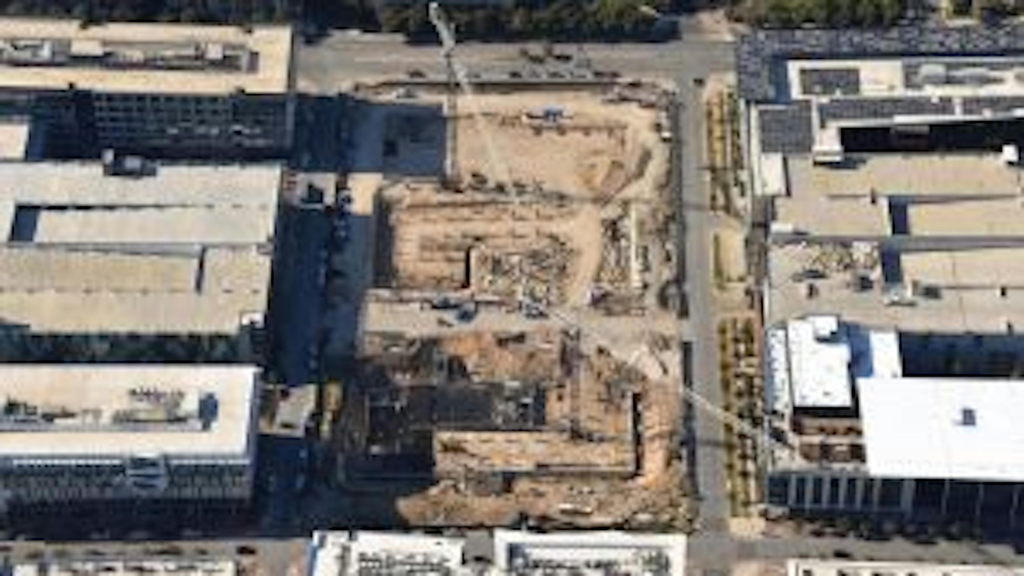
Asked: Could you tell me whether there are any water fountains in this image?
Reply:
No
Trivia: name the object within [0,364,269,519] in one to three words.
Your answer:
building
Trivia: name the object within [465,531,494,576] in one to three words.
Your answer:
building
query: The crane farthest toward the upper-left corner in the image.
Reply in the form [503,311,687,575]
[430,2,518,197]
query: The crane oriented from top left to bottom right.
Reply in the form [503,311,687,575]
[524,299,754,442]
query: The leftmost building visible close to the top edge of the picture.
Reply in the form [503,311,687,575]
[0,16,297,165]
